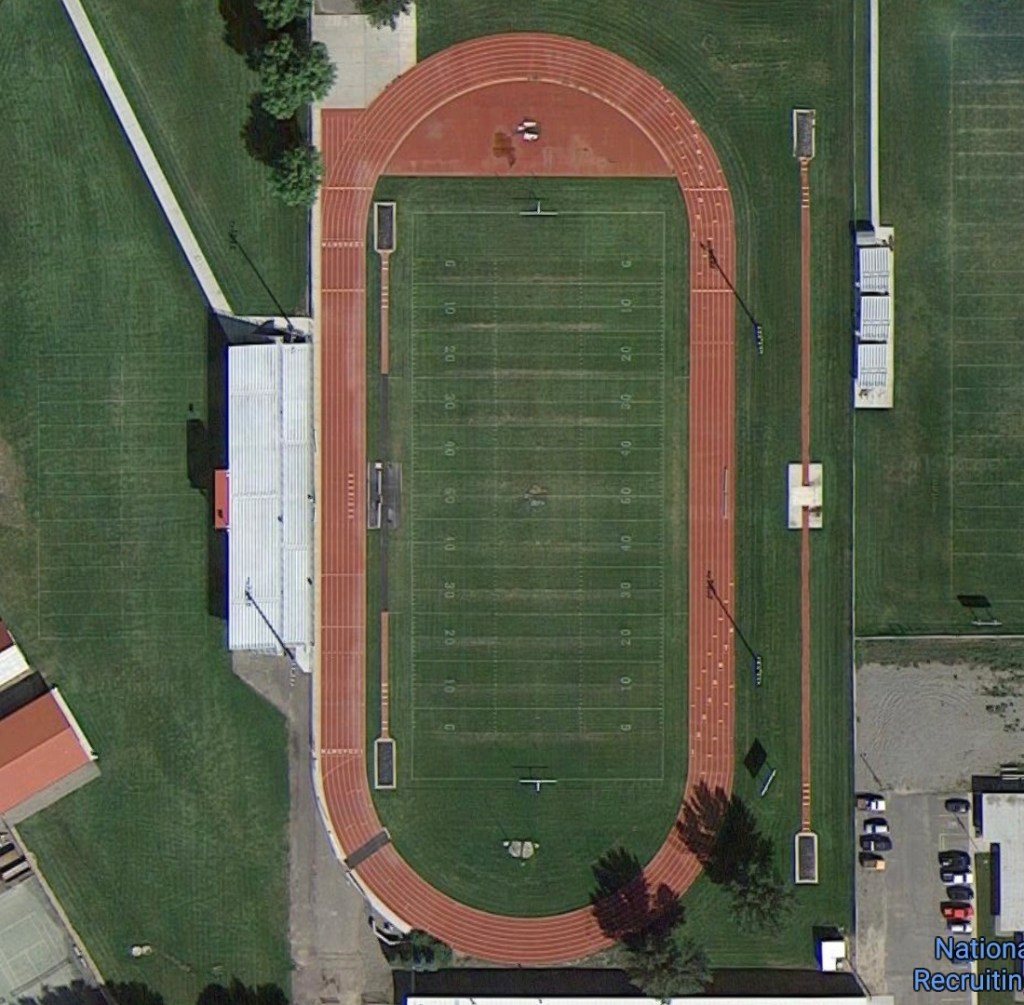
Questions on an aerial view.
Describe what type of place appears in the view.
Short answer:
sports ground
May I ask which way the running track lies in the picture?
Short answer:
from top to bottom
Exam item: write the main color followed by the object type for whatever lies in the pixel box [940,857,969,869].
black vehicle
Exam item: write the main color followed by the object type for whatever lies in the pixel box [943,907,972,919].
red vehicle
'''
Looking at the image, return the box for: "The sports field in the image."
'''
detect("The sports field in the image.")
[366,178,690,916]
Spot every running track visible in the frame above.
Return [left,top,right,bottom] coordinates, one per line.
[320,33,735,961]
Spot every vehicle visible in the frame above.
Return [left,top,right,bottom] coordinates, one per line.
[857,798,885,811]
[950,956,973,967]
[943,873,972,884]
[940,857,969,869]
[862,859,886,870]
[946,801,969,812]
[864,823,887,834]
[949,923,973,933]
[949,889,972,900]
[943,907,972,919]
